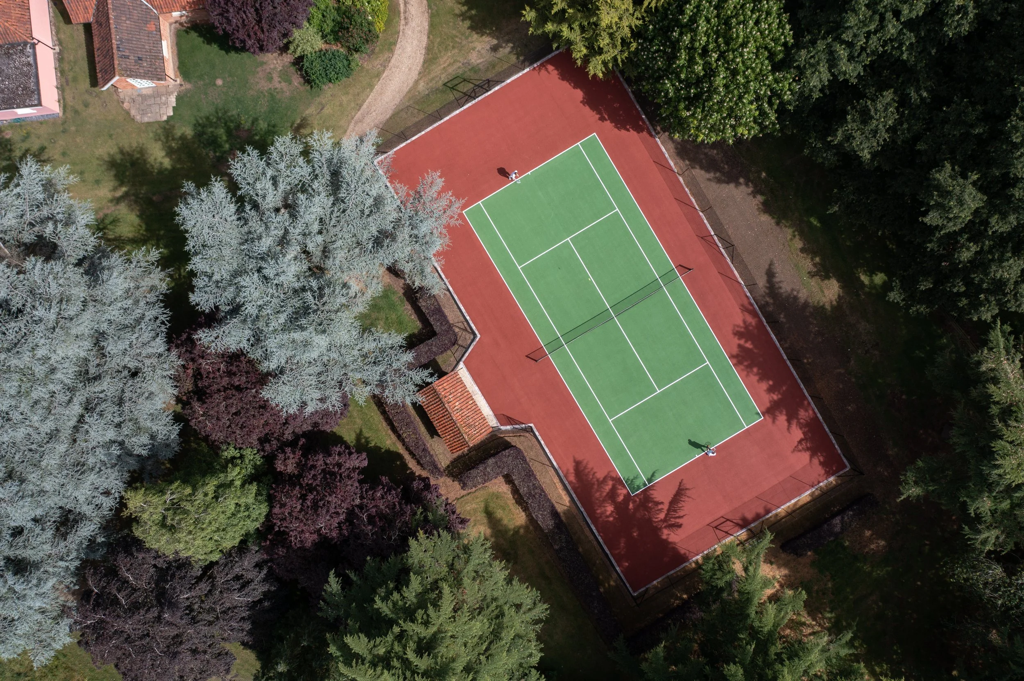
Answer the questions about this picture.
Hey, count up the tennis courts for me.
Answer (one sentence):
The count comes to 1 tennis court.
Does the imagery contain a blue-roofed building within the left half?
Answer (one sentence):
No, I see no blue-roofed building within the left half.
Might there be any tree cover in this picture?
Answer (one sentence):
Yes, there's tree cover in this view.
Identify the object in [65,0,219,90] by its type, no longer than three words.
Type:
house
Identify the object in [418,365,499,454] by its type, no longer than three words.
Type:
building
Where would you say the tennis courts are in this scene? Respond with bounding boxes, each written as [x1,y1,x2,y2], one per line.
[372,40,851,598]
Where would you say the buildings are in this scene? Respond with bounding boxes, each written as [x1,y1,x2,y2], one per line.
[0,0,61,118]
[65,0,219,90]
[418,365,499,454]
